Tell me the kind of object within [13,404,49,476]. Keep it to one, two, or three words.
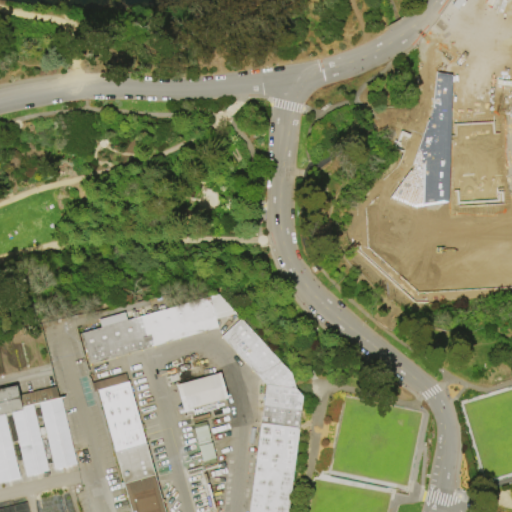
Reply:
building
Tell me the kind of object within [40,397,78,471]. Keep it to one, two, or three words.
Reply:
building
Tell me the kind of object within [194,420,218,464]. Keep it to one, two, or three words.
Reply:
shed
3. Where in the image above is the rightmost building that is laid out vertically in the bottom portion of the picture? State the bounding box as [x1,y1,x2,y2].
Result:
[222,320,304,512]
